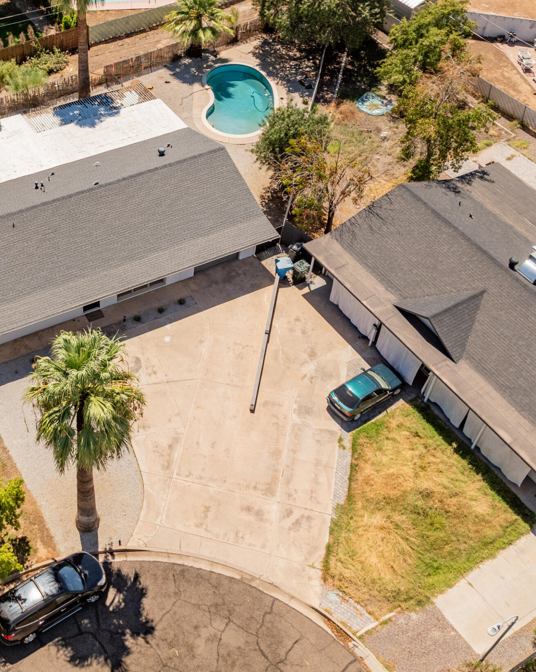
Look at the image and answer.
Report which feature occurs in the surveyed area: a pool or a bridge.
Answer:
pool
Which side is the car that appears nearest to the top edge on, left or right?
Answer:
right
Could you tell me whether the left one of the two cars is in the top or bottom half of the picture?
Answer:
bottom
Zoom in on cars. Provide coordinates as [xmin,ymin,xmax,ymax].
[321,359,412,426]
[0,547,115,656]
